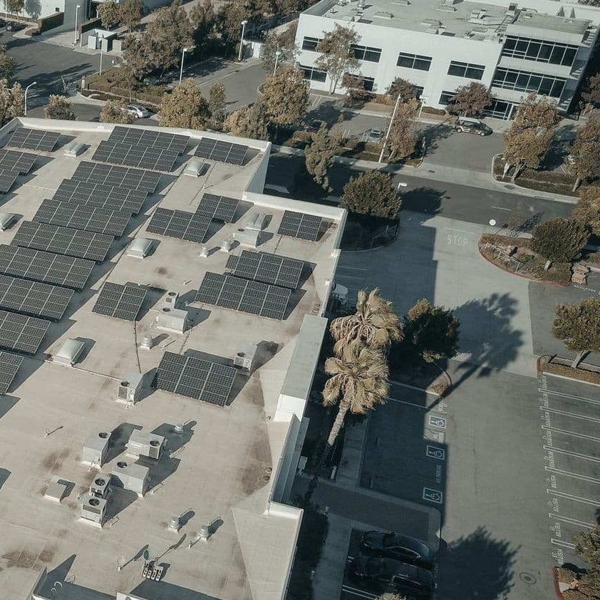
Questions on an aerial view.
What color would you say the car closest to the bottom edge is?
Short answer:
black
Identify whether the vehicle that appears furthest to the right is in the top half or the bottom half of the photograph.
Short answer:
top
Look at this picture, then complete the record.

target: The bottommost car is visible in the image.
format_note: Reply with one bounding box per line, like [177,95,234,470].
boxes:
[357,548,439,596]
